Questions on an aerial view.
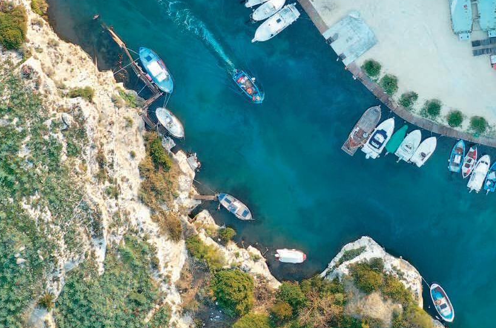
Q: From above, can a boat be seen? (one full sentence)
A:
Yes, the image includes a boat.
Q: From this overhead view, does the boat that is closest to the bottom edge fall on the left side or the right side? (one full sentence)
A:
The boat that is closest to the bottom edge appears in the right half of the scene.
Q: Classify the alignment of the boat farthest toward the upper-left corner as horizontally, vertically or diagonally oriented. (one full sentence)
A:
The boat farthest toward the upper-left corner is laid out diagonally.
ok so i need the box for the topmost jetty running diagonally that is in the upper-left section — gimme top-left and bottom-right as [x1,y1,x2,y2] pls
[98,20,164,92]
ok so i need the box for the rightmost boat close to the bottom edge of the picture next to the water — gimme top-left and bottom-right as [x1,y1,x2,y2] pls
[422,277,454,322]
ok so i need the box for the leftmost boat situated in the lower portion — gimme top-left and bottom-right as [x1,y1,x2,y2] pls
[218,193,252,220]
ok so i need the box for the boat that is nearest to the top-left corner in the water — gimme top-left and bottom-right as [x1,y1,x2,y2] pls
[132,49,173,106]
